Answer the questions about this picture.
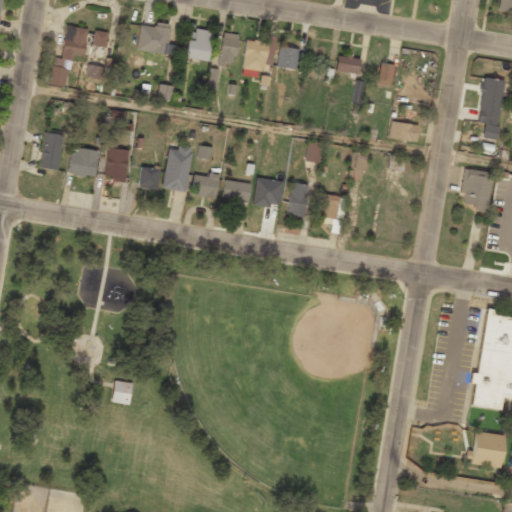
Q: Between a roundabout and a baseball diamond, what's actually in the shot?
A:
baseball diamond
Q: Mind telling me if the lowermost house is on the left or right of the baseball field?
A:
on the right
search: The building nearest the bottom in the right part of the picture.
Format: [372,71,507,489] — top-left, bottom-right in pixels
[468,432,506,468]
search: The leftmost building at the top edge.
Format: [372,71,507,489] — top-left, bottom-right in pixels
[50,22,89,88]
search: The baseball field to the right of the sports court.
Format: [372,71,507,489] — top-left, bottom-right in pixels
[174,273,376,508]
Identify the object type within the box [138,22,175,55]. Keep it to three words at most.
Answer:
house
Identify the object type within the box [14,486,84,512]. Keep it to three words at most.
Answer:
sports court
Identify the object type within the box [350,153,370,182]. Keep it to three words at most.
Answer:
house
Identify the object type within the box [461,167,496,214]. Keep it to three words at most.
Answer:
building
